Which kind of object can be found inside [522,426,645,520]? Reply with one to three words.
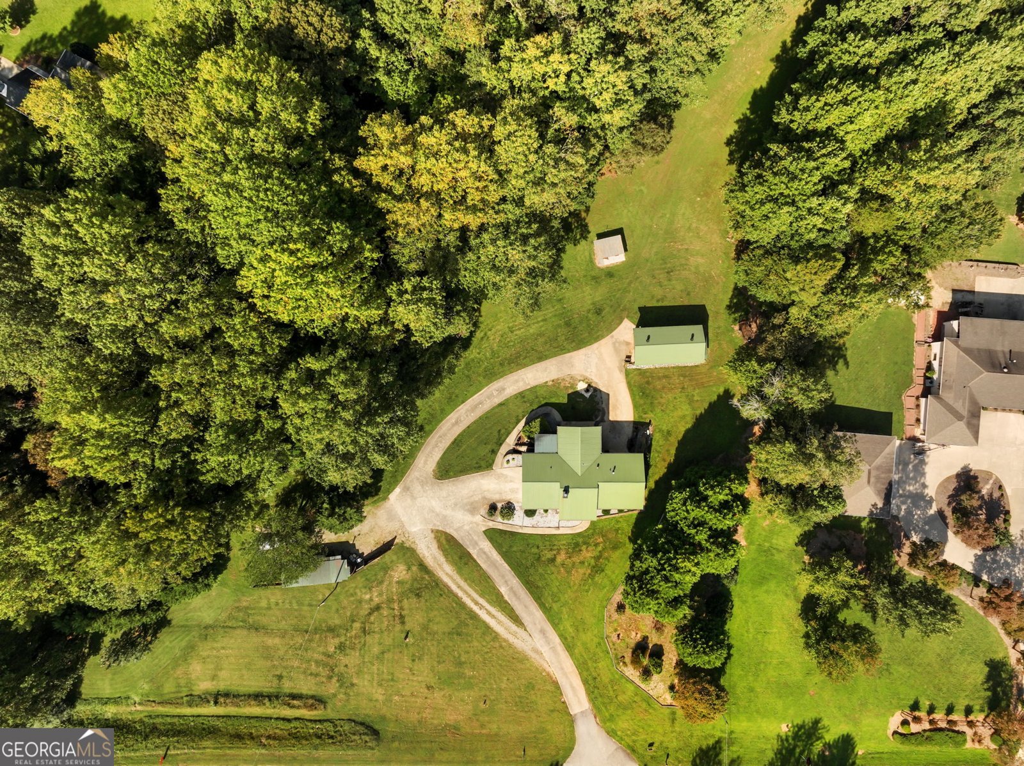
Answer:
house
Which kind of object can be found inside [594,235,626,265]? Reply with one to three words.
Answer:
shed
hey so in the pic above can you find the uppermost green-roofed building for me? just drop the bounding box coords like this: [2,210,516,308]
[631,325,705,366]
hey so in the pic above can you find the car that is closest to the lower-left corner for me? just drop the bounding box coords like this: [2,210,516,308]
[344,550,367,571]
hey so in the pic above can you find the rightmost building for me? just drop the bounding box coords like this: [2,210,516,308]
[908,316,1024,446]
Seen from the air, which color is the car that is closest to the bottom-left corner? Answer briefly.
black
